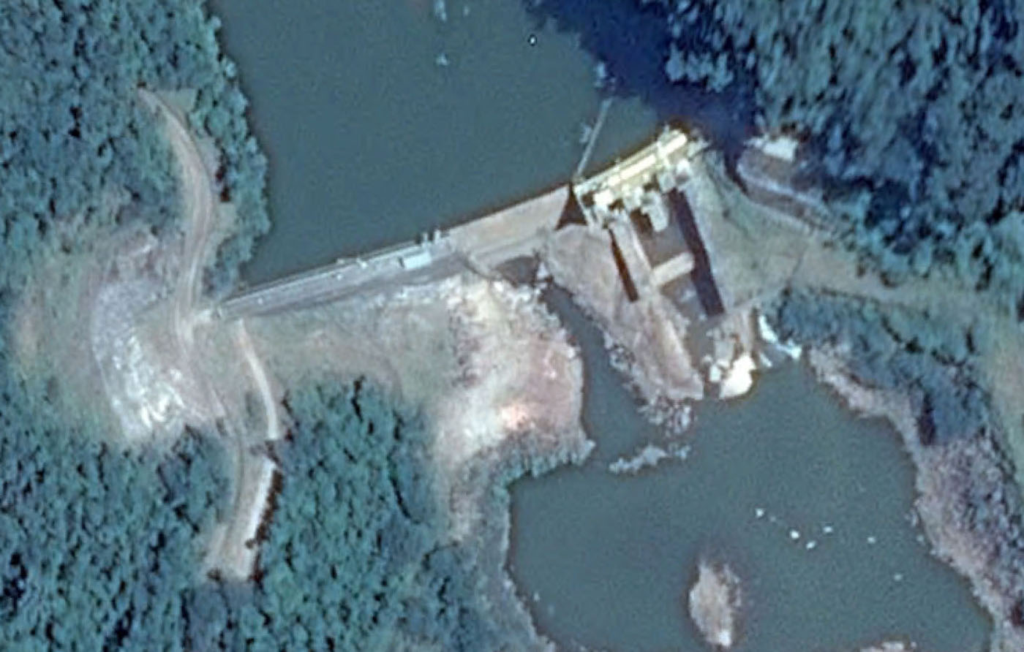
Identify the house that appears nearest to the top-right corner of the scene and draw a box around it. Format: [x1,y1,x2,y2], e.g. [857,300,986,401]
[746,136,799,161]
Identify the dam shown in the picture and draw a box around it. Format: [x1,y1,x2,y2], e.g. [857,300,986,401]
[215,183,587,320]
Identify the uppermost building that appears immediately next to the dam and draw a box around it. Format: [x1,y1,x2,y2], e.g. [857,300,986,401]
[573,123,693,232]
